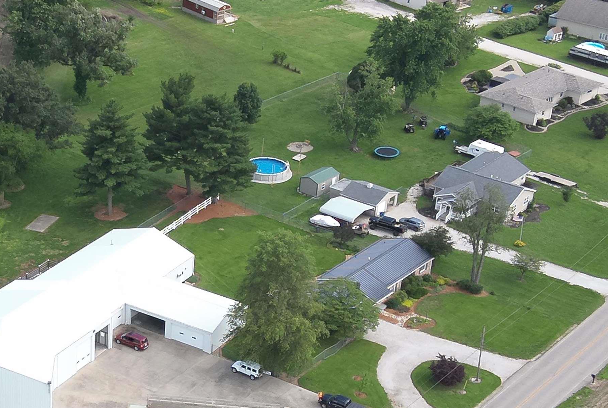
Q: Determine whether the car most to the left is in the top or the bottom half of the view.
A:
bottom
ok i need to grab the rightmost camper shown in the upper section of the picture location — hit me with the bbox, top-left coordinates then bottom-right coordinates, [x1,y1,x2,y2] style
[568,40,608,64]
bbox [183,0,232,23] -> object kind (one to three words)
building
